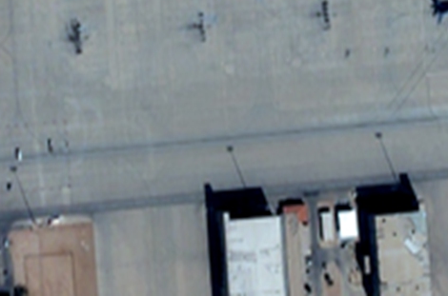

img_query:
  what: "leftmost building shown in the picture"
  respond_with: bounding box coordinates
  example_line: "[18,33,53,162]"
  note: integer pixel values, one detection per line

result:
[216,212,285,296]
